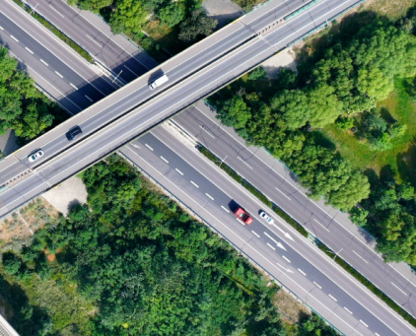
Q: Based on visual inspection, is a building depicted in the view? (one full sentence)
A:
No, there appears to be no building in this shot.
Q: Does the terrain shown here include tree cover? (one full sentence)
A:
Yes, tree cover can be seen from above here.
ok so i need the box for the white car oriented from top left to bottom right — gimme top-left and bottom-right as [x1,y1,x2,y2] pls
[258,210,274,224]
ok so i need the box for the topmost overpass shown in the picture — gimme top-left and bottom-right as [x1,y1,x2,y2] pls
[3,9,264,209]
